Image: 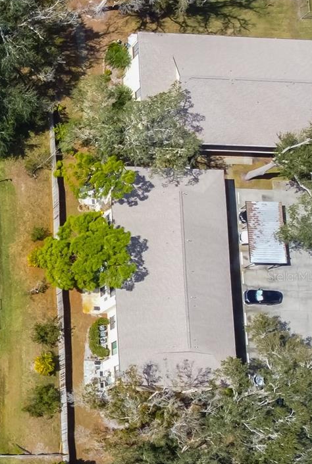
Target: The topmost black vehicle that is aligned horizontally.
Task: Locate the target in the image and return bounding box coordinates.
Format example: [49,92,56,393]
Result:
[244,288,281,306]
